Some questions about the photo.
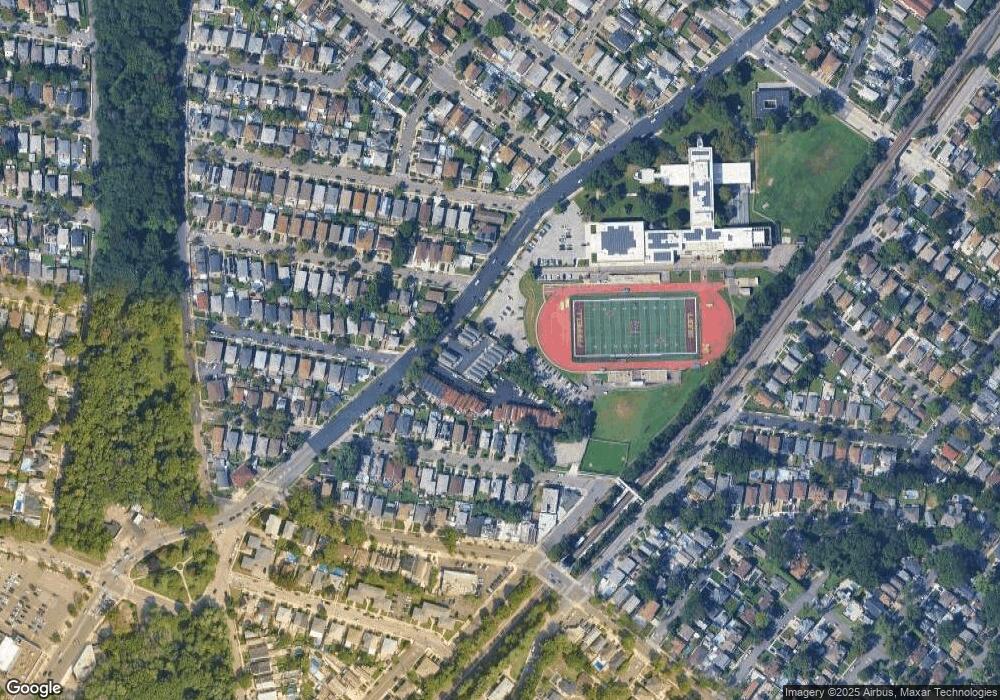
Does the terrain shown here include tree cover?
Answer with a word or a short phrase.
Yes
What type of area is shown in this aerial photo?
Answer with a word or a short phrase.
residential area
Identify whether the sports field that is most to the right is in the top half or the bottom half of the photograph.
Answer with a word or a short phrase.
top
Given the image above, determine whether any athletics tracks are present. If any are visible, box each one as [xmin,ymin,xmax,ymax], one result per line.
[536,280,734,374]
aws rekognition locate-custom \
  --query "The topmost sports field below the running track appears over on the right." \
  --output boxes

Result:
[590,380,698,448]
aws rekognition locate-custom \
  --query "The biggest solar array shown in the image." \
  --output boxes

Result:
[602,226,637,254]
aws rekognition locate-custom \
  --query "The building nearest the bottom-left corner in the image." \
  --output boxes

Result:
[0,629,42,682]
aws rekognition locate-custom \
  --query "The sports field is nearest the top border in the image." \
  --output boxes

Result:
[757,113,876,240]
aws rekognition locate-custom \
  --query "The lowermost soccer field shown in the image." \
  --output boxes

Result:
[581,441,630,474]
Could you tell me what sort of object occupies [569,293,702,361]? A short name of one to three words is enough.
sports field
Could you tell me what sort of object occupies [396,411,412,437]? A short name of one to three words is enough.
house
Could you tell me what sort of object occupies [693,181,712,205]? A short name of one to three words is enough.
solar array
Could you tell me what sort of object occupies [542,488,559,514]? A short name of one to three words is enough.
building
